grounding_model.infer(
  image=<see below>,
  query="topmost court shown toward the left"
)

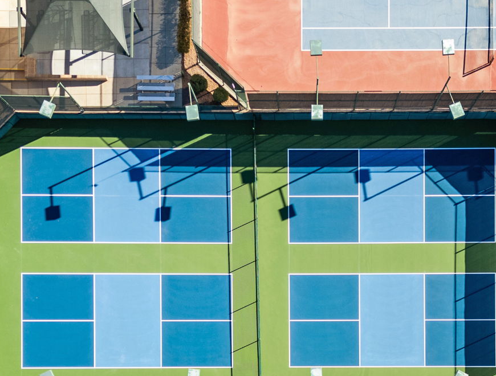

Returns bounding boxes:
[22,148,231,243]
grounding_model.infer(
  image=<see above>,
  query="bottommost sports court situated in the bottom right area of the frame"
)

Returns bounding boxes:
[288,273,496,367]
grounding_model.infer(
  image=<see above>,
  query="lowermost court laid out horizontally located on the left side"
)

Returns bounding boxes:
[22,273,233,368]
